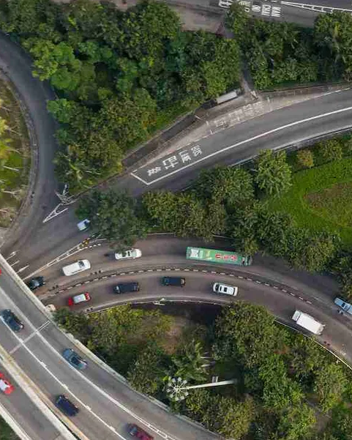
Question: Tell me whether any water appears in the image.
No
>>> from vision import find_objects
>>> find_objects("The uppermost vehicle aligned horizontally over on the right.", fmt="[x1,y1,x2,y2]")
[186,246,256,270]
